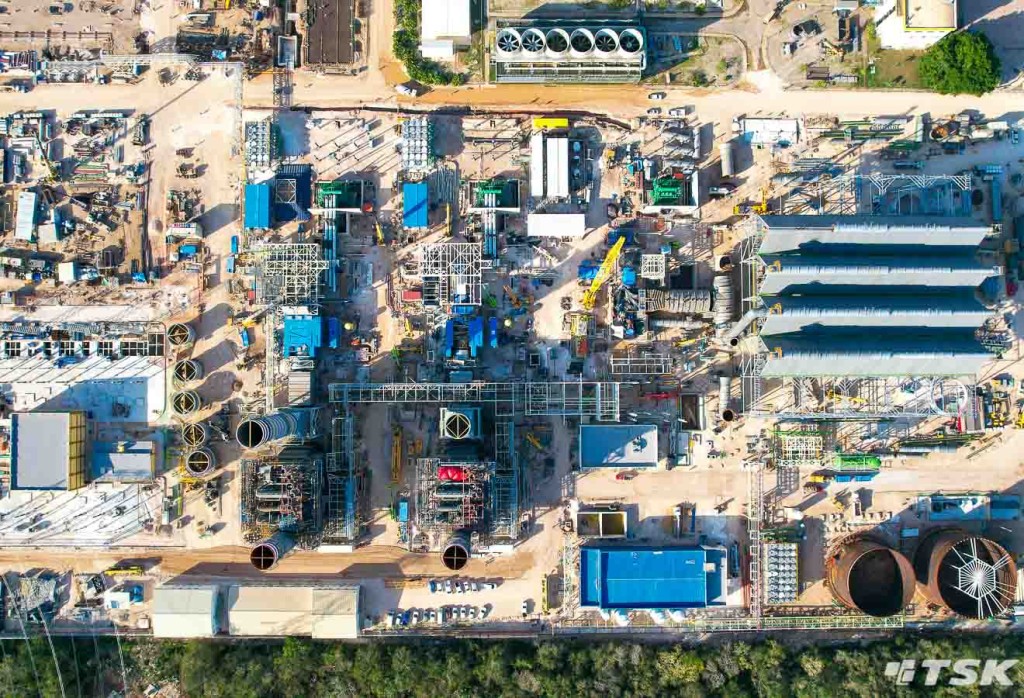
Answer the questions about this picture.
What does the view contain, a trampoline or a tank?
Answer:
tank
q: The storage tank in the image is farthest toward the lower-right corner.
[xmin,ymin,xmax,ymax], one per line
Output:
[914,527,1020,621]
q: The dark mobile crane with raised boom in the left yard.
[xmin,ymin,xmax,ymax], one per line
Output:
[0,108,66,185]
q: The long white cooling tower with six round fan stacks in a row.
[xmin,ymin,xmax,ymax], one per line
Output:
[494,25,647,86]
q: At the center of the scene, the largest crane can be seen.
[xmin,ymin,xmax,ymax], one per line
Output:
[565,240,622,353]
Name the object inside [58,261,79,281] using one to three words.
building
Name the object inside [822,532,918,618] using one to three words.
storage tank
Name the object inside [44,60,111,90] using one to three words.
shed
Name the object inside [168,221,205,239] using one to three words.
building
